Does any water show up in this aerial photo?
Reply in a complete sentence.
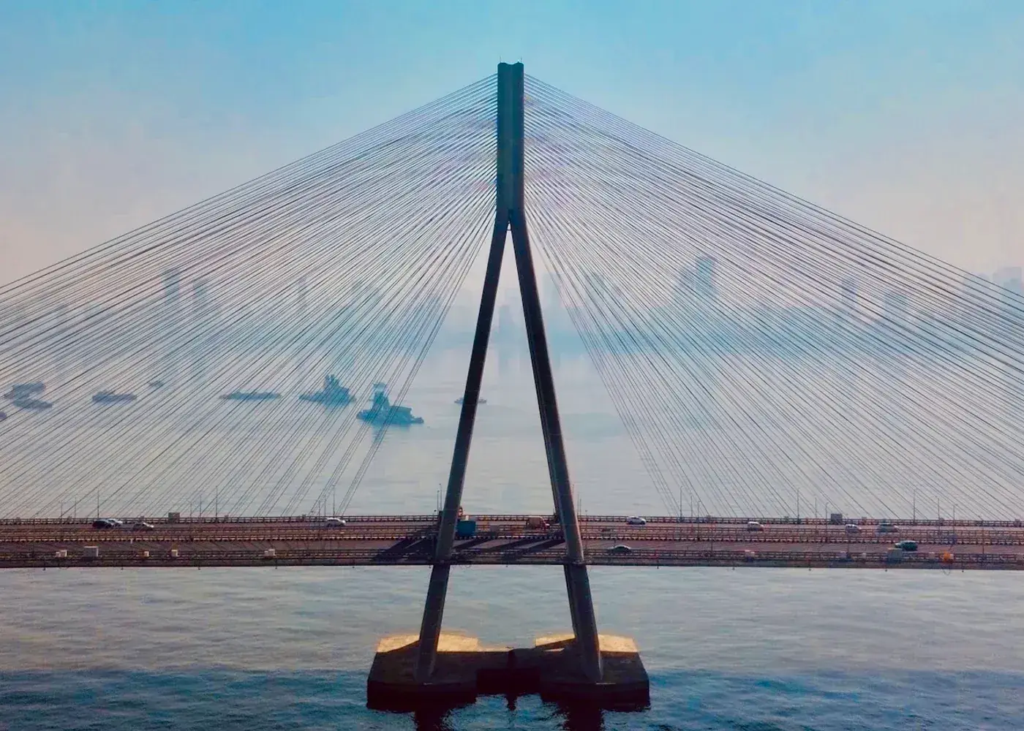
Yes, some water is visible.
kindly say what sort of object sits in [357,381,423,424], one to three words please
ship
